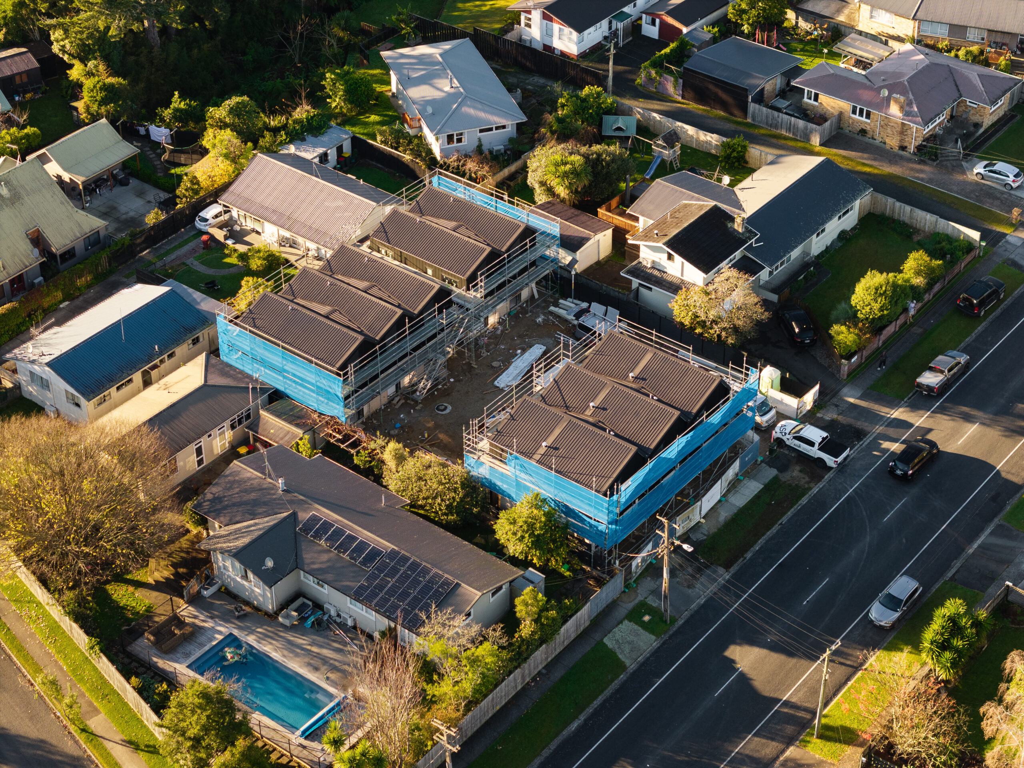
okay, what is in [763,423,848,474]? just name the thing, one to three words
truck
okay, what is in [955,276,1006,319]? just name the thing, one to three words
car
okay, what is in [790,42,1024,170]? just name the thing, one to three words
house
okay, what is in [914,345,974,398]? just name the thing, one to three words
truck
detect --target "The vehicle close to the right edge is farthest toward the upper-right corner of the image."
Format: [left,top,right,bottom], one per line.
[973,160,1024,190]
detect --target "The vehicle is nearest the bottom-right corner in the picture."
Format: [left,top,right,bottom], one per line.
[866,569,929,632]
